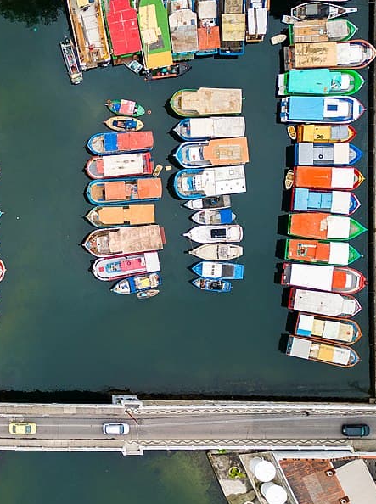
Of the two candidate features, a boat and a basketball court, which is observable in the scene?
boat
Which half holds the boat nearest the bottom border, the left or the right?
right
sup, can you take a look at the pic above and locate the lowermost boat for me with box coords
[283,337,376,365]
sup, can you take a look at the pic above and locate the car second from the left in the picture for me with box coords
[101,422,130,436]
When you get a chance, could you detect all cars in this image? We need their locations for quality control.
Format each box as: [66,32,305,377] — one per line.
[101,422,130,436]
[340,423,371,438]
[8,422,37,436]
